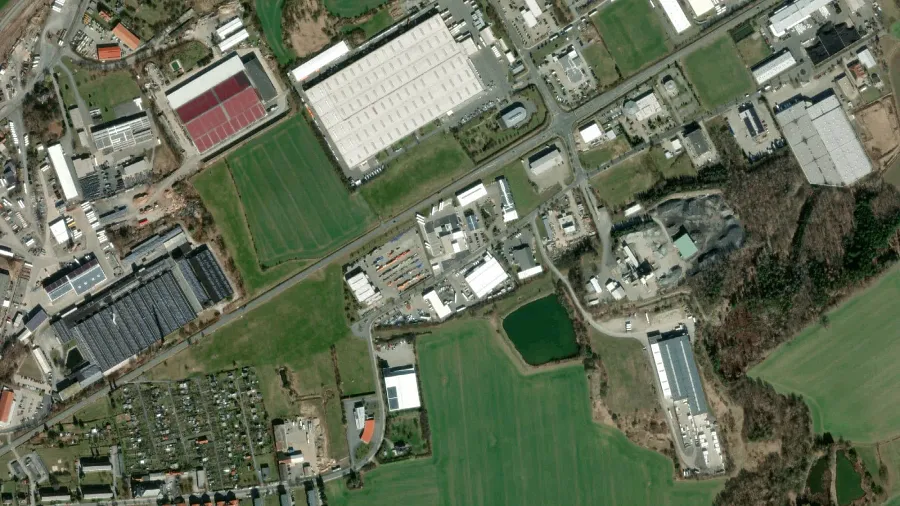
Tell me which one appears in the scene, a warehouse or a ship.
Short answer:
warehouse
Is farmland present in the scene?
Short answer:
Yes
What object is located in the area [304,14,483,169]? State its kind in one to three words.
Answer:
warehouse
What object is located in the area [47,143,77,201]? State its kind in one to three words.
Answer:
building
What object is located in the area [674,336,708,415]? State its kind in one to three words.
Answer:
building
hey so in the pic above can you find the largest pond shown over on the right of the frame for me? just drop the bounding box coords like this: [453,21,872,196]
[504,294,578,365]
